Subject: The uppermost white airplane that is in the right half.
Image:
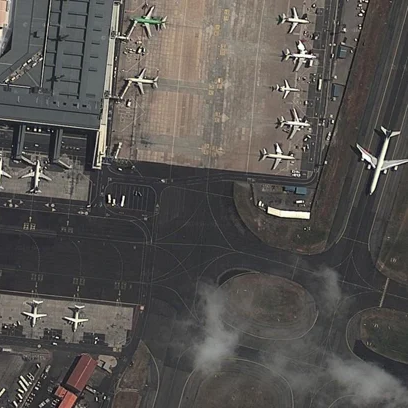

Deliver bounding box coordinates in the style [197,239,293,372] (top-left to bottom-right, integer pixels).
[279,7,310,33]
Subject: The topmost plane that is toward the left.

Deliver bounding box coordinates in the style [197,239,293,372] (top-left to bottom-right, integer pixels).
[131,6,168,36]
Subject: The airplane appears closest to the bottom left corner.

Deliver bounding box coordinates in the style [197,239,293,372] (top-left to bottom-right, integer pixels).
[23,299,48,327]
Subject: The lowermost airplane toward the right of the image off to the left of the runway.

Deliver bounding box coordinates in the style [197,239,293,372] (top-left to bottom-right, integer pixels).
[260,142,294,168]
